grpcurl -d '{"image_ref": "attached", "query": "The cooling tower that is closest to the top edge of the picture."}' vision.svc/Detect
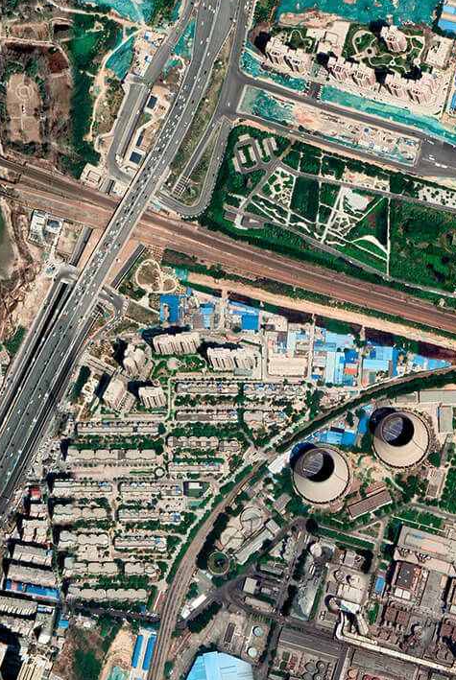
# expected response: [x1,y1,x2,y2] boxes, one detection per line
[370,409,430,468]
